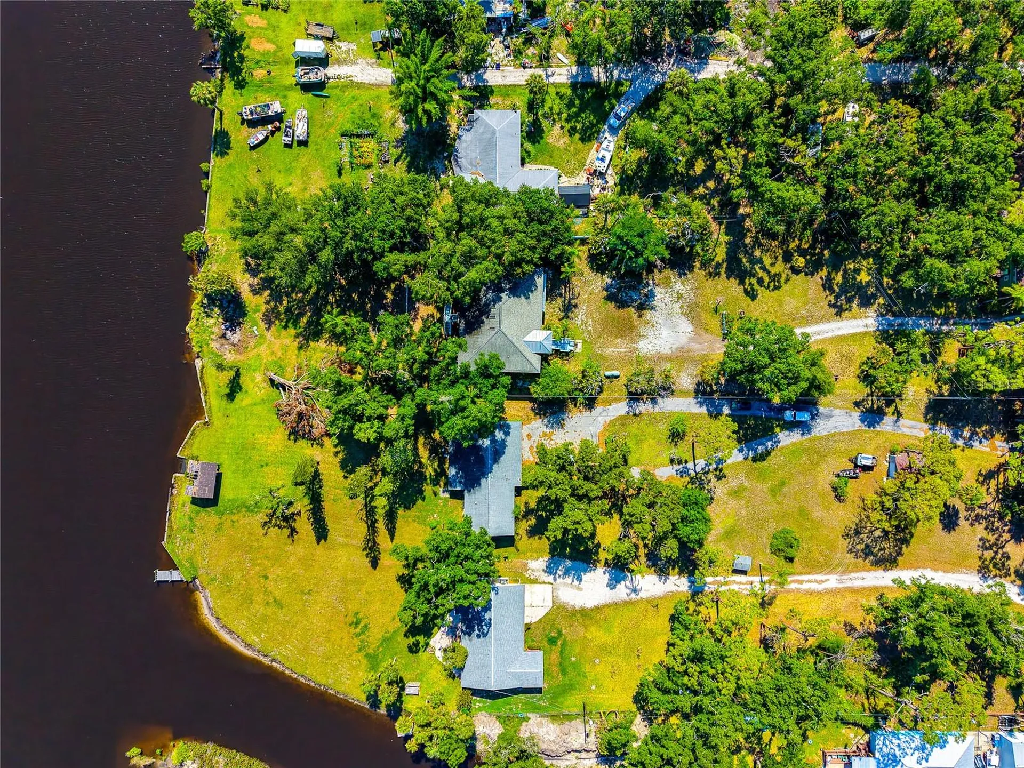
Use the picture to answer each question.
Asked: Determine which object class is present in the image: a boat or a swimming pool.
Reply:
boat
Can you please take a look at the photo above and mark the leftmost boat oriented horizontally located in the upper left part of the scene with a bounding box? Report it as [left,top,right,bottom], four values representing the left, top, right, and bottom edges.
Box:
[237,100,281,119]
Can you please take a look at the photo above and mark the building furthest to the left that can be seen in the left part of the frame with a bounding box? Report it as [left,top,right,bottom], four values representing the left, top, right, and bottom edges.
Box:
[185,460,223,498]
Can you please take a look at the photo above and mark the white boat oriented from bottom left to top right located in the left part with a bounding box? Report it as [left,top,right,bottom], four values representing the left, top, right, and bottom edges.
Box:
[247,130,267,147]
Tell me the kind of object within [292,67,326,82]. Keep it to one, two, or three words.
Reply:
boat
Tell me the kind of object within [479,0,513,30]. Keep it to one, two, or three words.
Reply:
house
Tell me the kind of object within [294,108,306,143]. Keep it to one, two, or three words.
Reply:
boat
